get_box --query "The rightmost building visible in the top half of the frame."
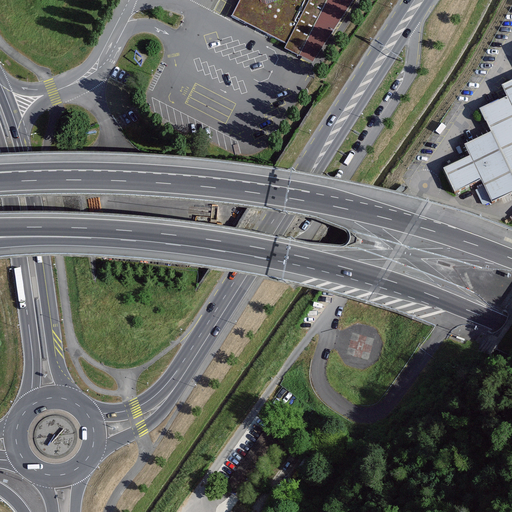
[442,79,512,203]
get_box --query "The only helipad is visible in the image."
[333,323,383,369]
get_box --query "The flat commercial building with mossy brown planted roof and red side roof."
[230,0,352,63]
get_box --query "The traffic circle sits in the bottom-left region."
[0,384,134,512]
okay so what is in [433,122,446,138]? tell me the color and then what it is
white vehicle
